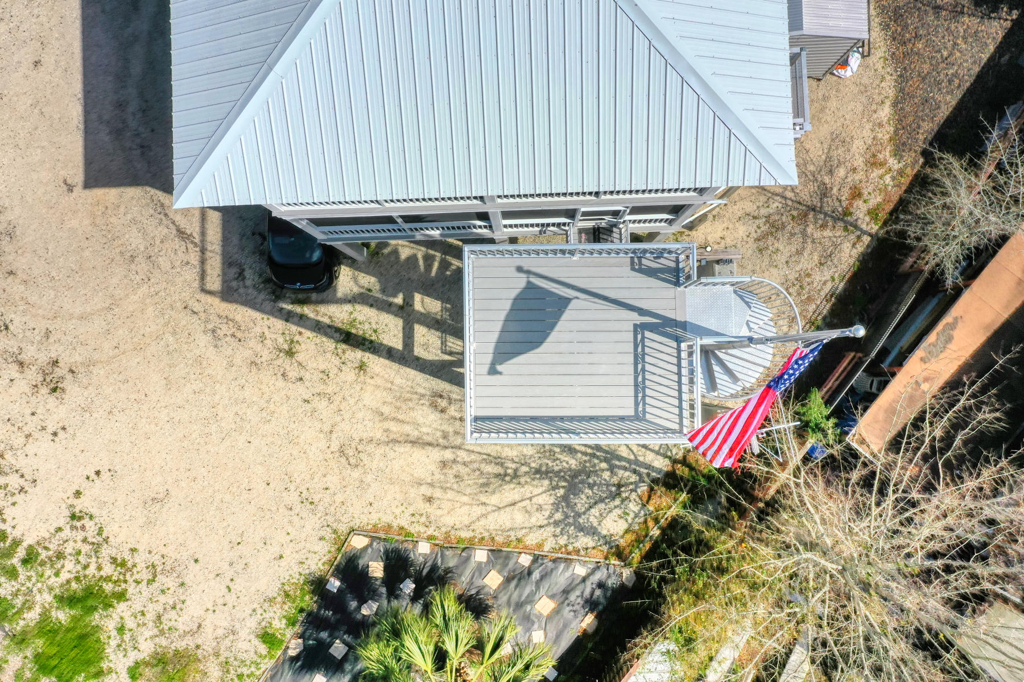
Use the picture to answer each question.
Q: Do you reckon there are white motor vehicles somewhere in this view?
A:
No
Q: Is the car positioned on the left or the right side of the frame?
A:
left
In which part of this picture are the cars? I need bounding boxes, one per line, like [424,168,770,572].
[266,207,345,293]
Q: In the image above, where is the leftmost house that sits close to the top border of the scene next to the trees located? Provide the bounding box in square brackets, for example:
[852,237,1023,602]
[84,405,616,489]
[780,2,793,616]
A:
[168,0,813,258]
